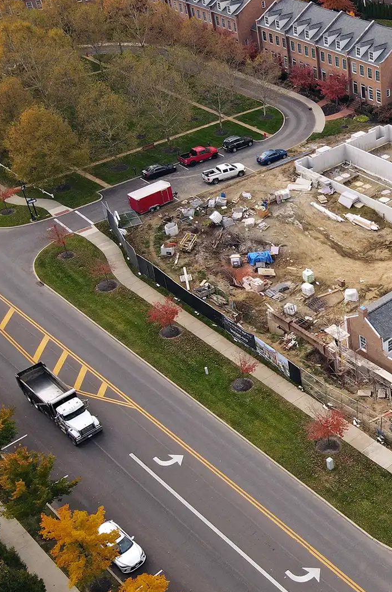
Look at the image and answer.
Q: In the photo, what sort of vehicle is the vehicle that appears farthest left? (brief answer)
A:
truck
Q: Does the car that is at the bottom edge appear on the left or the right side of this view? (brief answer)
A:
left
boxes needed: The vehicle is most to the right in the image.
[253,149,289,166]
